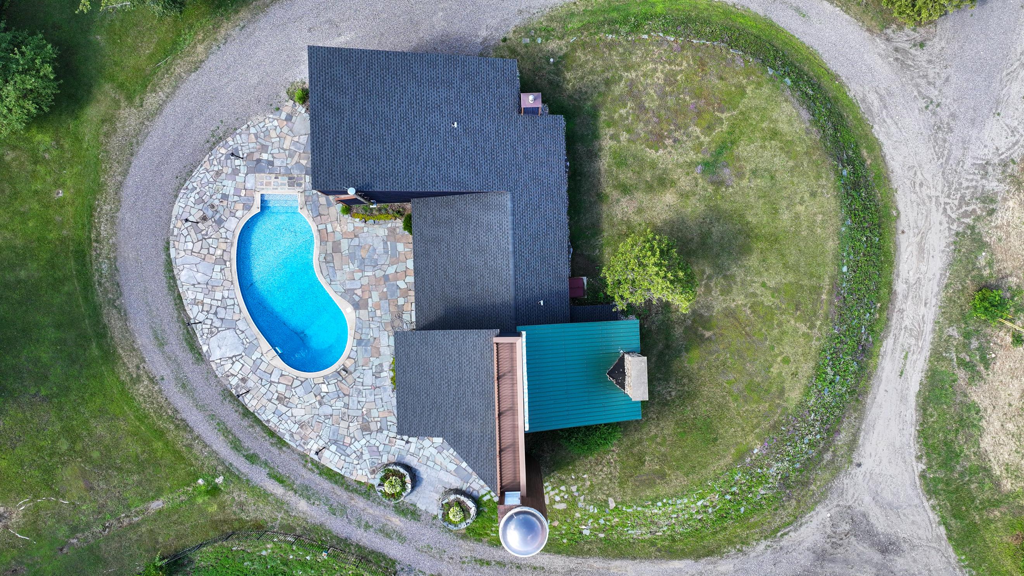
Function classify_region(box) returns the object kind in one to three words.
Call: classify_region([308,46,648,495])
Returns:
house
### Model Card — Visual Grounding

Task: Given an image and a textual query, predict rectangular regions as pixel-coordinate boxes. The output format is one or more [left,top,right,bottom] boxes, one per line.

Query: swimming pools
[228,173,356,380]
